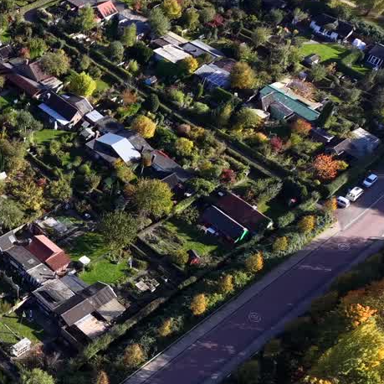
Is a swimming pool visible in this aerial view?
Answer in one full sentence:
No, there appears to be no swimming pool in this shot.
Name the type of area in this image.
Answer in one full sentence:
The area seen from above is a residential area.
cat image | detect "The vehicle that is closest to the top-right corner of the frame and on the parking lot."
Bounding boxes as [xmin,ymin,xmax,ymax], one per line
[361,174,379,187]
